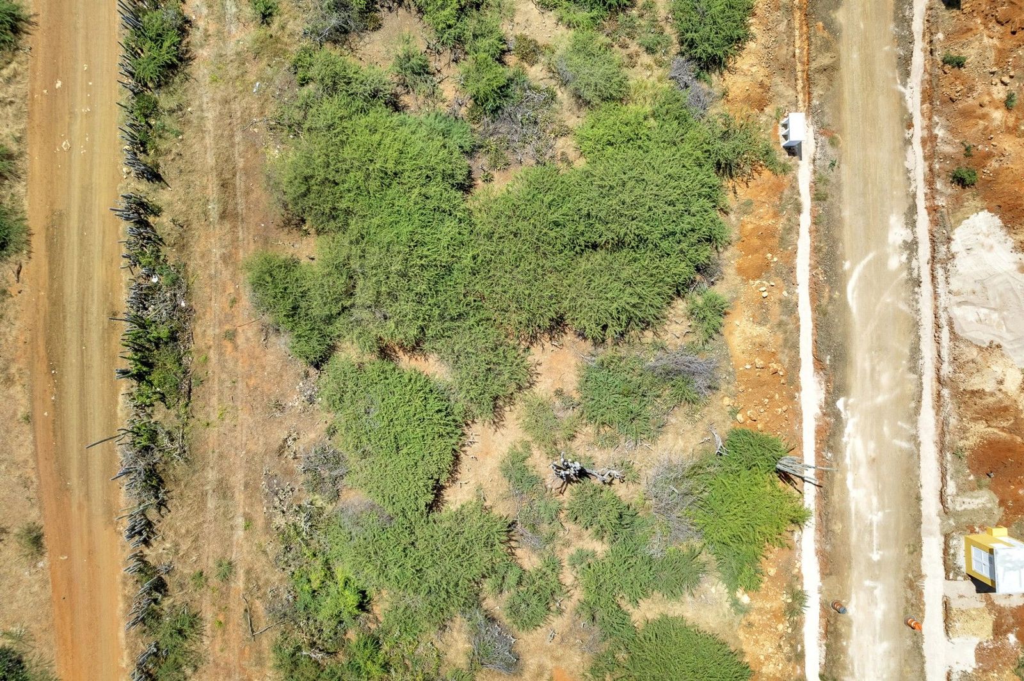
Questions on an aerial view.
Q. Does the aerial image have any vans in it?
No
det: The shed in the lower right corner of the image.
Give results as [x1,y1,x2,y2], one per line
[965,528,1024,593]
